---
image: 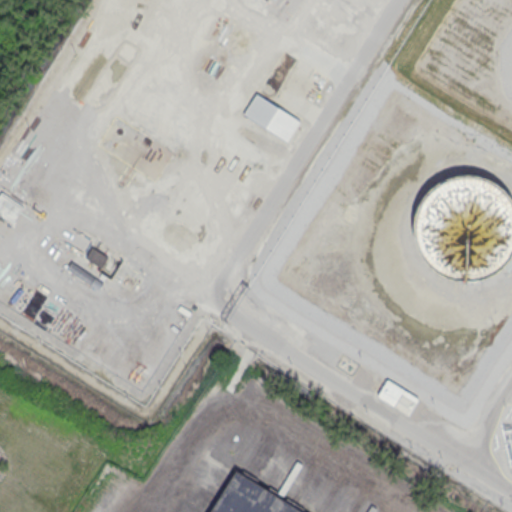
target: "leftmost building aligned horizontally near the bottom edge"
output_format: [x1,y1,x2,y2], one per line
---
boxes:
[215,471,308,512]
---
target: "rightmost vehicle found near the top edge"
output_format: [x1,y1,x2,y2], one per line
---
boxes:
[131,12,144,29]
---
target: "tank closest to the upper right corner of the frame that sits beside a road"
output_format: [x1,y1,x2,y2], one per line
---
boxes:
[412,176,512,283]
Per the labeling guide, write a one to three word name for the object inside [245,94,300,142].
building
